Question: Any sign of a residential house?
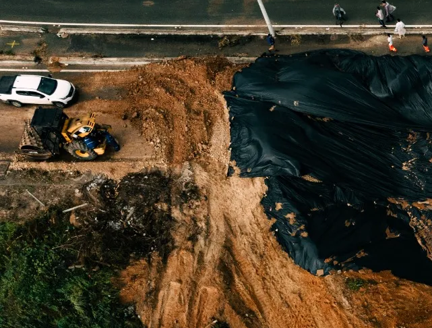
No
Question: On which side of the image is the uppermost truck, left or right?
left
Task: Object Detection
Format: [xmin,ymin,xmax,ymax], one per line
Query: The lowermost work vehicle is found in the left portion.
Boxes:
[9,107,101,162]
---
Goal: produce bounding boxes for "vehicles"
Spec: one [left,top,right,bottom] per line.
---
[0,71,79,109]
[9,107,101,162]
